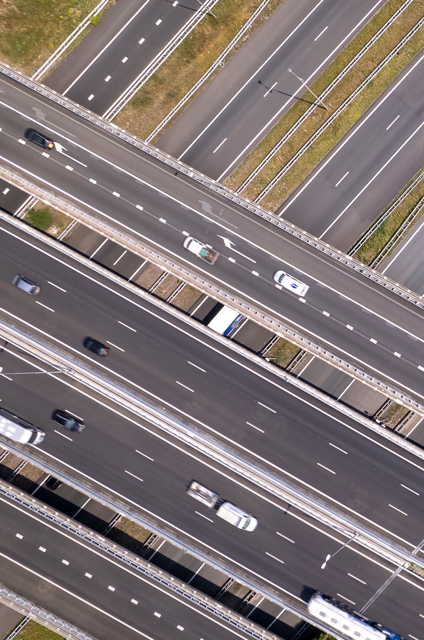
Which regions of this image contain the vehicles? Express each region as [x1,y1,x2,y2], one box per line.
[186,239,224,267]
[85,336,112,358]
[14,274,42,296]
[219,500,260,529]
[311,591,408,640]
[25,128,57,152]
[47,479,65,493]
[0,406,55,446]
[277,271,313,298]
[207,307,244,338]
